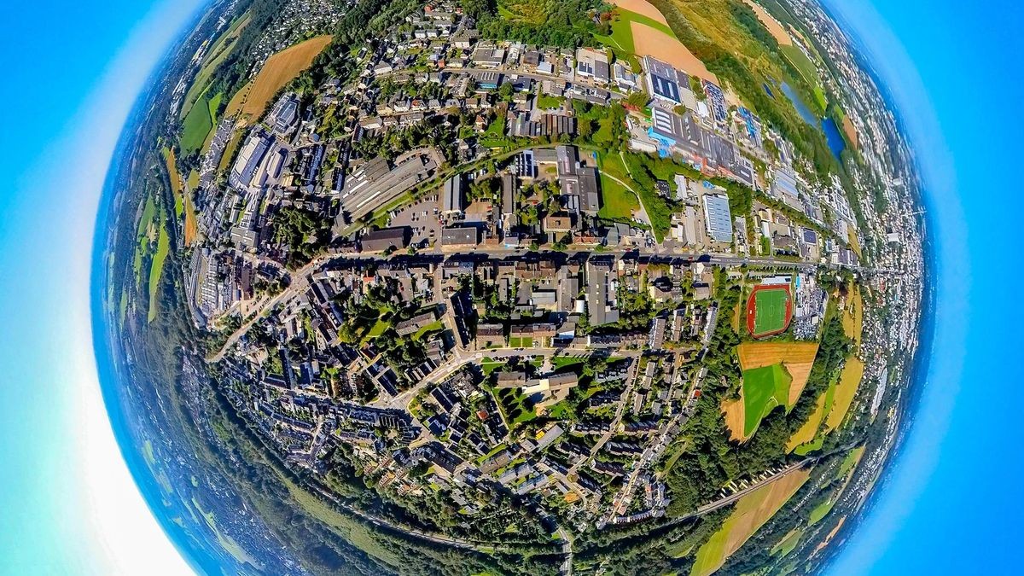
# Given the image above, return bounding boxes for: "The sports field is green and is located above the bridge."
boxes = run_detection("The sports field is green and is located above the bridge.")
[747,283,793,339]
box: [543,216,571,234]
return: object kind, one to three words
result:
house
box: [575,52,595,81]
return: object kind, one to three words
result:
building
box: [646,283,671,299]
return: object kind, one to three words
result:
house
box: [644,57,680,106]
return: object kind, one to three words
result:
building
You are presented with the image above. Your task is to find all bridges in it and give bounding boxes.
[693,444,862,516]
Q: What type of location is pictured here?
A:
residential area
